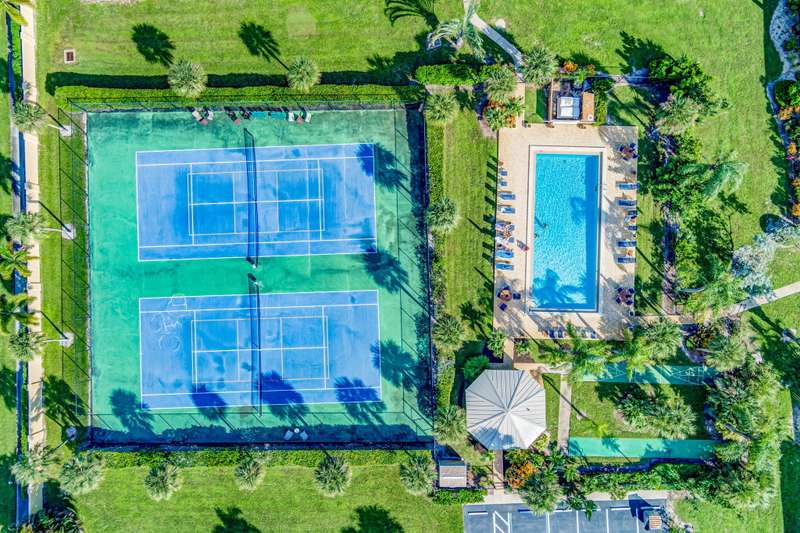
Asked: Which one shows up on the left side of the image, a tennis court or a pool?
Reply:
tennis court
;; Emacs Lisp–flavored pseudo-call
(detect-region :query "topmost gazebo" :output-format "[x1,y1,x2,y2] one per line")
[466,369,545,449]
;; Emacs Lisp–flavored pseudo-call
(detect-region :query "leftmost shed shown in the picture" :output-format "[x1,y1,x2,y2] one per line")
[439,460,467,487]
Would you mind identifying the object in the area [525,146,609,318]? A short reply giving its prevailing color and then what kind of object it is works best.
blue swimming pool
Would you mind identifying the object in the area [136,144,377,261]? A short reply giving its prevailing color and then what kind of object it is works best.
blue tennis court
